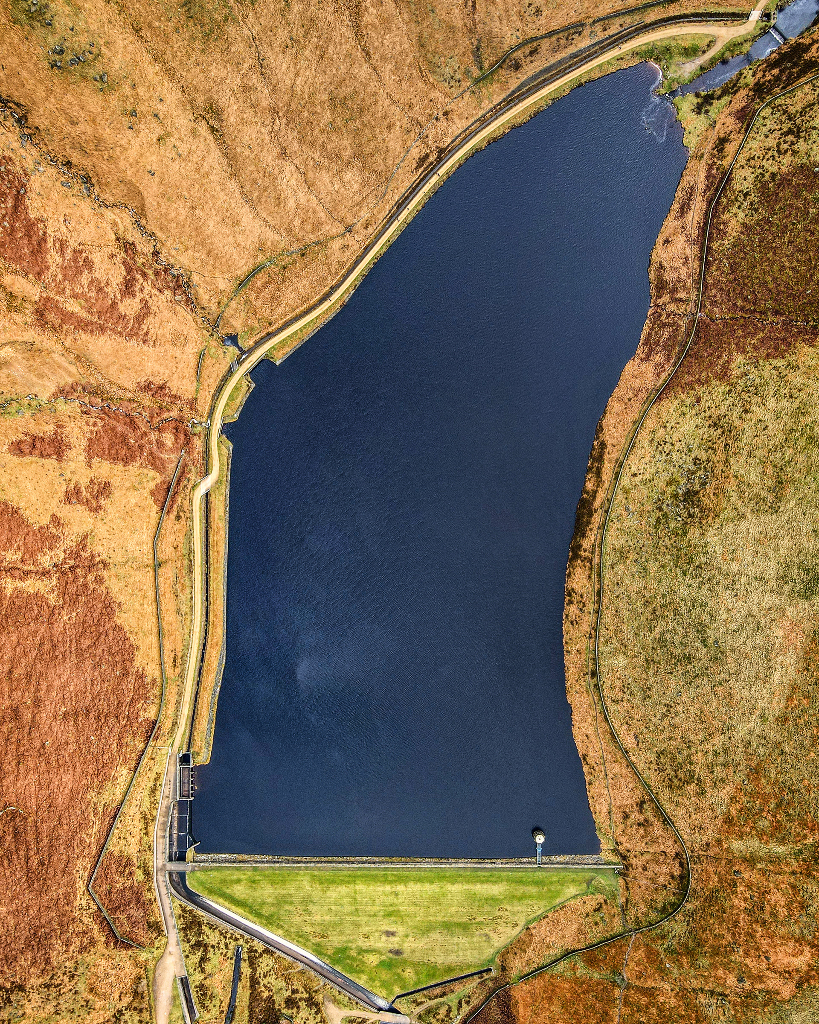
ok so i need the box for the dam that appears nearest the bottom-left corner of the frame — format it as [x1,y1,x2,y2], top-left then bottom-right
[190,853,624,1001]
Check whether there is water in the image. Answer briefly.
Yes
